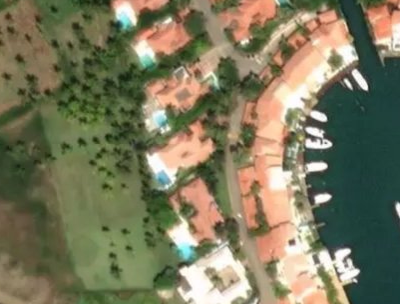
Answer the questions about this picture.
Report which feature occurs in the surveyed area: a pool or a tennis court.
pool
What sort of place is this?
residential area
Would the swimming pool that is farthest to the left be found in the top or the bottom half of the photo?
top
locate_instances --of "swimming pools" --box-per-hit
[115,3,138,30]
[146,155,177,189]
[134,40,156,69]
[170,220,198,261]
[145,97,171,132]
